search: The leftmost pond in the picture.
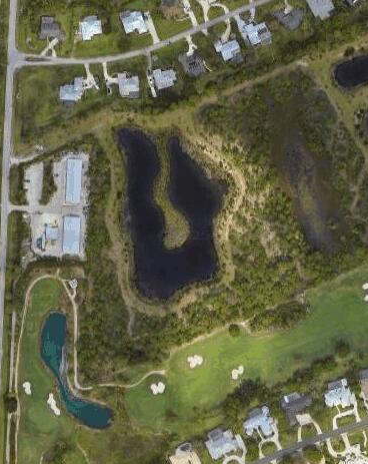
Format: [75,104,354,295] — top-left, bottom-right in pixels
[41,313,112,427]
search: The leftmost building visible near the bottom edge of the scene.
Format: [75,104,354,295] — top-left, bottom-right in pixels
[169,443,201,464]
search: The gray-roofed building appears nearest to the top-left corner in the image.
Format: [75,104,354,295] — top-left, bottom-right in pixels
[41,16,64,40]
